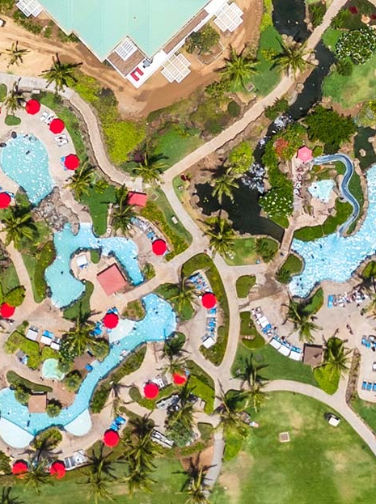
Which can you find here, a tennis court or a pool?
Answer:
pool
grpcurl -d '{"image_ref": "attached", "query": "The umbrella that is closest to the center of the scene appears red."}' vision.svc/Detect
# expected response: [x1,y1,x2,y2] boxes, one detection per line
[152,240,168,255]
